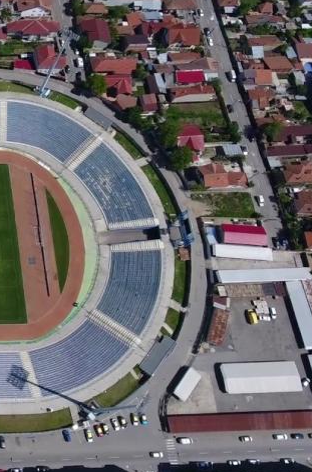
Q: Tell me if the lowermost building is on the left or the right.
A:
right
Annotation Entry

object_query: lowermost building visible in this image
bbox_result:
[164,411,312,433]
